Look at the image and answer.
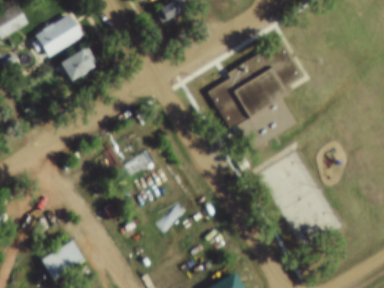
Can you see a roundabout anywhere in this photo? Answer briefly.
No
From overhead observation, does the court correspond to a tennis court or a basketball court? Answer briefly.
basketball court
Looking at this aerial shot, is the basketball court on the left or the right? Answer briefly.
right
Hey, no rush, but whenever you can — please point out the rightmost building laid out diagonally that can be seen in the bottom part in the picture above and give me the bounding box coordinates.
[156,204,186,234]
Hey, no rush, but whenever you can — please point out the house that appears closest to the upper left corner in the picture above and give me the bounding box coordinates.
[0,6,26,39]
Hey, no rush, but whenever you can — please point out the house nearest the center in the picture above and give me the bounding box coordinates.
[124,152,154,178]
